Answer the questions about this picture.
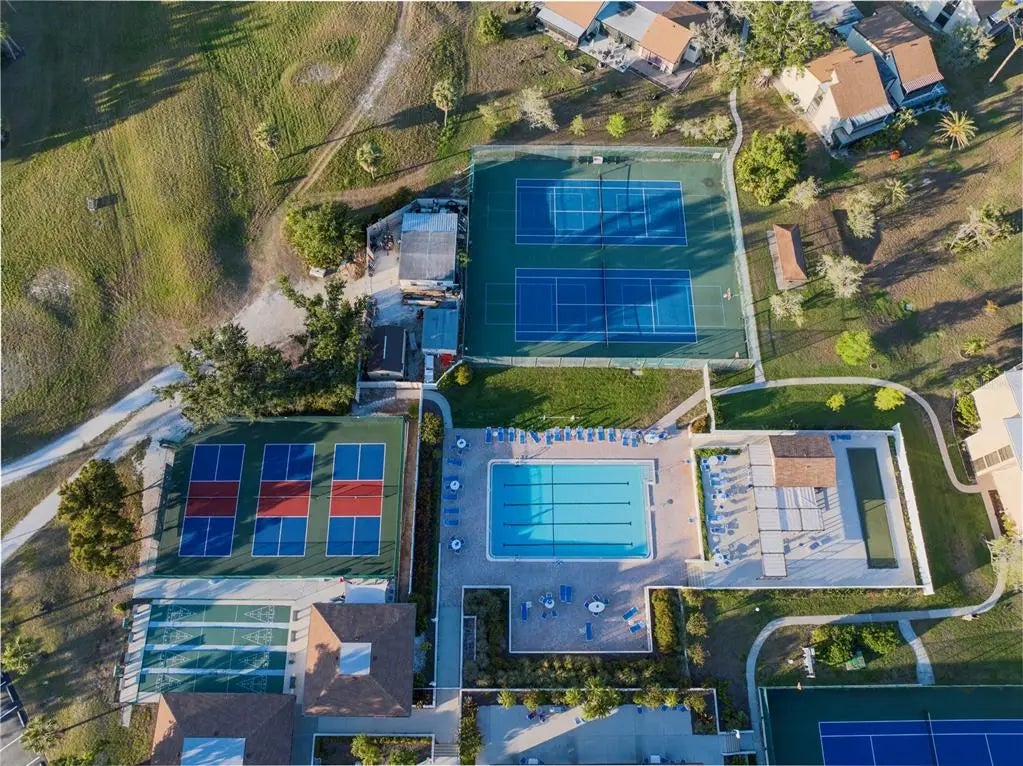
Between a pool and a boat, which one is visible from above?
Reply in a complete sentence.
The image shows a pool.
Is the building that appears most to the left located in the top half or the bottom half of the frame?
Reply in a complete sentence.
The building that appears most to the left is in the bottom half of the image.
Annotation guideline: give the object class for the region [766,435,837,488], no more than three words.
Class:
shed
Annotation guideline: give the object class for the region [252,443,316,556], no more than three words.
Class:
sports court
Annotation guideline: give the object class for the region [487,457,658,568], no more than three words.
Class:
swimming pool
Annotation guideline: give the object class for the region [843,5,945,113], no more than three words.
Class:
house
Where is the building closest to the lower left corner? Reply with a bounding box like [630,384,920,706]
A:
[149,692,297,766]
